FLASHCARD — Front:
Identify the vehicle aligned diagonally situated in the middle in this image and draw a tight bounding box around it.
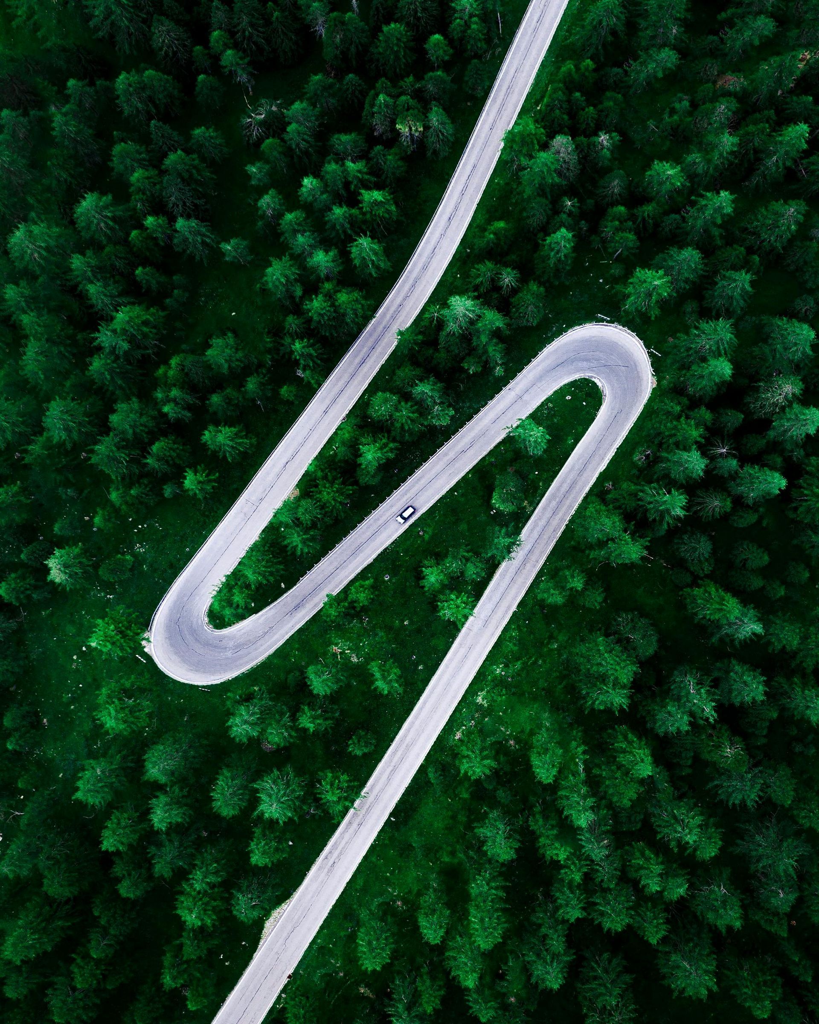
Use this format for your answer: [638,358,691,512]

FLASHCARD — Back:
[398,504,416,522]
